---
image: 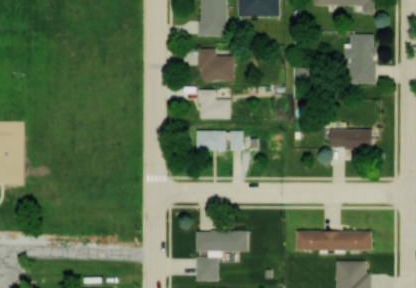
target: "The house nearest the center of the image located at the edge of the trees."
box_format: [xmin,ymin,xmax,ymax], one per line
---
[196,130,226,151]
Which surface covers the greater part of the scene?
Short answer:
grass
